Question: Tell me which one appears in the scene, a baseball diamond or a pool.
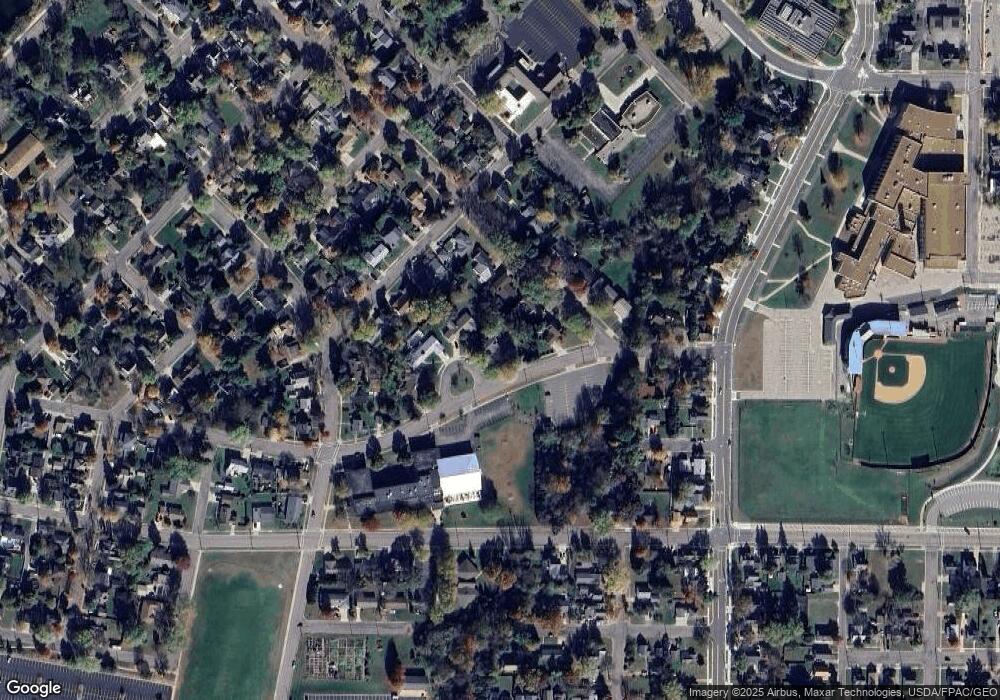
baseball diamond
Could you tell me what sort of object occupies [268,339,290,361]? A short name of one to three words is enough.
house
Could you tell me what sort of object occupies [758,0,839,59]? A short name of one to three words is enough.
building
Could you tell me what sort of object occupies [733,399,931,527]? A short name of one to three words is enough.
sports field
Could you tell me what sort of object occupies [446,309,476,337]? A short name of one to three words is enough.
house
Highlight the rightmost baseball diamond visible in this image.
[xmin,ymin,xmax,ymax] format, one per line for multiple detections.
[854,334,992,470]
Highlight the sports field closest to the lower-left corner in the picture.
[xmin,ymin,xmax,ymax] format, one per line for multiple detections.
[175,551,302,700]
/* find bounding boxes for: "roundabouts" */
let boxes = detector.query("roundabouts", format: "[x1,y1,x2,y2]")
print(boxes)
[440,356,482,405]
